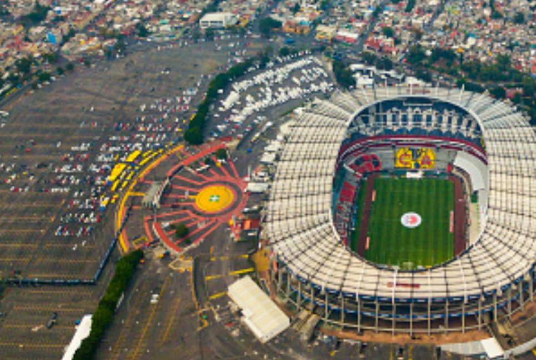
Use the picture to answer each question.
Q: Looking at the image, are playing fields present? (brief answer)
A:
Yes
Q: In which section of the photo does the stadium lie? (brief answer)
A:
right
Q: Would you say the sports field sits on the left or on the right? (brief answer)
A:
right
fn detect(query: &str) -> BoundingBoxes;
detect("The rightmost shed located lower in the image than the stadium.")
[481,338,504,360]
